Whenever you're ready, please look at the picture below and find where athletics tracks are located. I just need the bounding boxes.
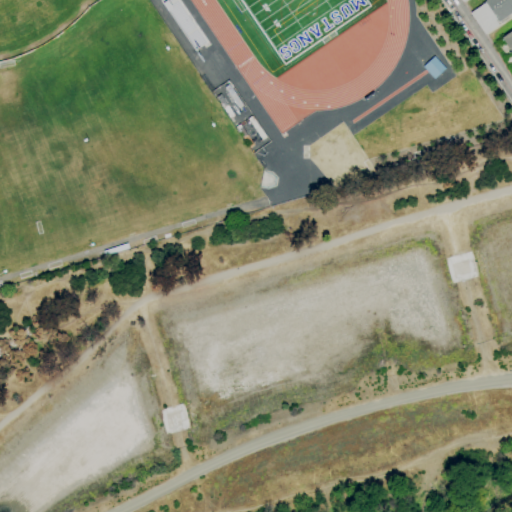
[190,0,411,136]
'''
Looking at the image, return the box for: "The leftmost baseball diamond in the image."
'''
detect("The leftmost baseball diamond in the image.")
[0,0,98,61]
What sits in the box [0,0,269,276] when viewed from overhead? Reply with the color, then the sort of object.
green sports field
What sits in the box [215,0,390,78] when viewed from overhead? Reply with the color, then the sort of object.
green sports field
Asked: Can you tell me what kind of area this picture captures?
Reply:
sports ground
